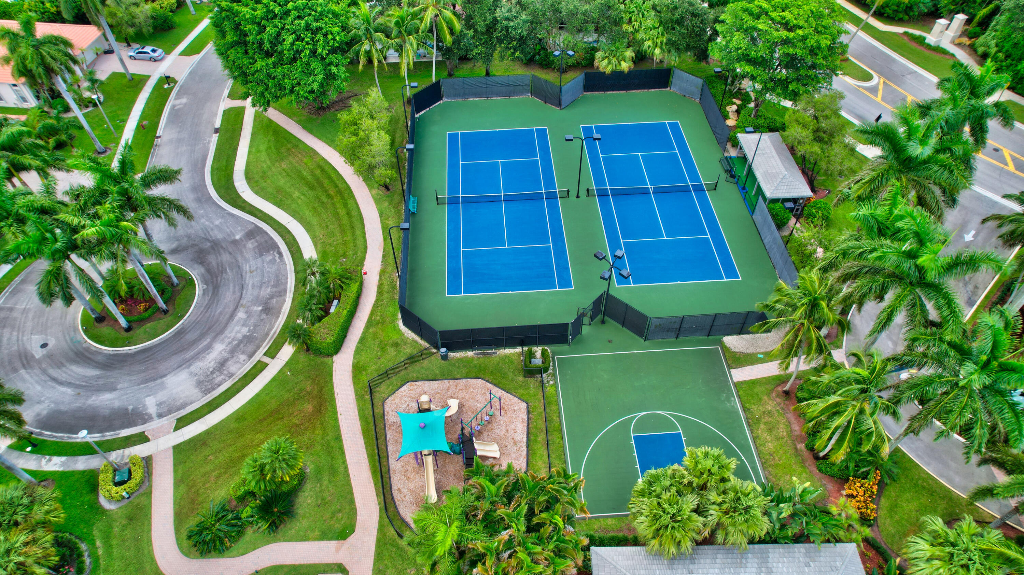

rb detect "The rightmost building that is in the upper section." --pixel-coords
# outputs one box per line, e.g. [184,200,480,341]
[736,132,813,216]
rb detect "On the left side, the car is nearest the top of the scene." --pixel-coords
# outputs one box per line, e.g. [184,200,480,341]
[125,44,165,62]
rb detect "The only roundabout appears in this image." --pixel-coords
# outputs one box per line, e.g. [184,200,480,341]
[77,262,199,349]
